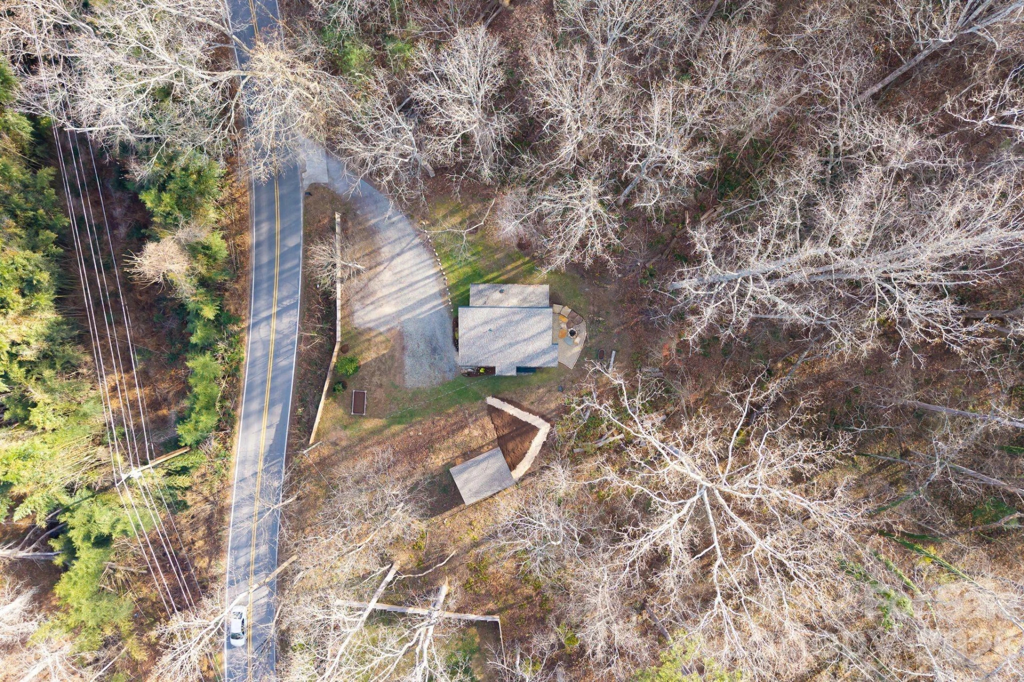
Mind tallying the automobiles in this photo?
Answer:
1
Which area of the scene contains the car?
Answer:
bottom left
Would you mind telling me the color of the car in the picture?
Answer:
white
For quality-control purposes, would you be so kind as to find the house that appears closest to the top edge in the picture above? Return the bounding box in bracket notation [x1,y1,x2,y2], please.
[457,283,559,375]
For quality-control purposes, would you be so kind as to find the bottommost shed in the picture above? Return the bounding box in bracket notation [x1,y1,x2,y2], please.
[450,446,515,505]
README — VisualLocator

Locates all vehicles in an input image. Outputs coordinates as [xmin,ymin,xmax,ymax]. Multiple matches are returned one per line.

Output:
[226,606,247,648]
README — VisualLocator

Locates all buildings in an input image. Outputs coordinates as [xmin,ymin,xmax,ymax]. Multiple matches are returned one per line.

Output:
[450,446,515,505]
[457,283,559,375]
